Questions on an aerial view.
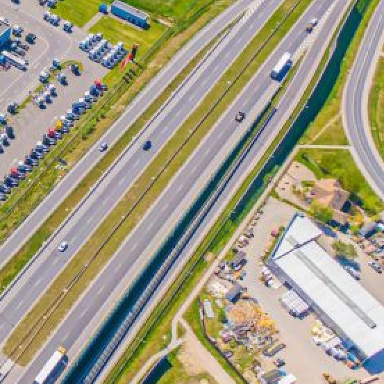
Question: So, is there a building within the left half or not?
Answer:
Yes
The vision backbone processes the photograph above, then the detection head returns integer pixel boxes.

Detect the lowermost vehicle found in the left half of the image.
[33,350,65,384]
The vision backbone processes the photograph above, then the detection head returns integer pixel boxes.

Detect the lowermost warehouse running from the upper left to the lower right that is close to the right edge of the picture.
[267,239,384,365]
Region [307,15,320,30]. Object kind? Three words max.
vehicle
